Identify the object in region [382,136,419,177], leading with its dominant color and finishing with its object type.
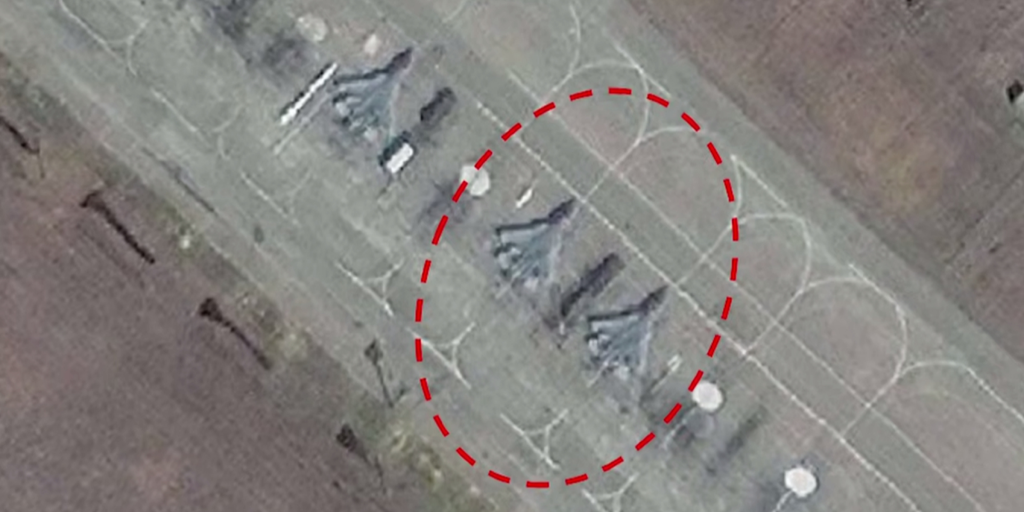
white truck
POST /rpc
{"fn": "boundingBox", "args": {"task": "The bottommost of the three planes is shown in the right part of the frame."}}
[586,293,670,381]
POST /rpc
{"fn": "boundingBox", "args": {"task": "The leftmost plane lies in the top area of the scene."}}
[333,55,416,147]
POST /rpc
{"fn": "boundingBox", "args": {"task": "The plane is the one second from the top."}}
[494,202,579,293]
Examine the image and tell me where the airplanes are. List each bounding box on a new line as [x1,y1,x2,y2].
[494,202,579,293]
[333,55,416,147]
[586,293,670,381]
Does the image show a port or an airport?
airport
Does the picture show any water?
No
